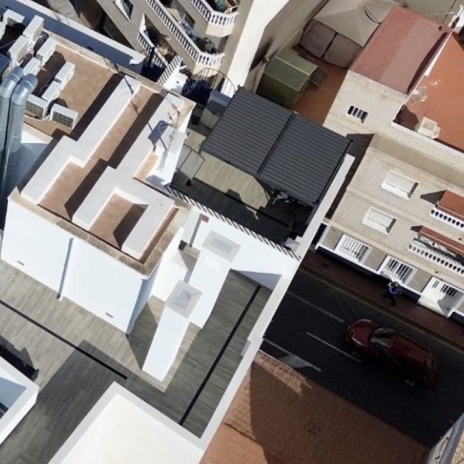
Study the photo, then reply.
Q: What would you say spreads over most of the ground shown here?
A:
buildings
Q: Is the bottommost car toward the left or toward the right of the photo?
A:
right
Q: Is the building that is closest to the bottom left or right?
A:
right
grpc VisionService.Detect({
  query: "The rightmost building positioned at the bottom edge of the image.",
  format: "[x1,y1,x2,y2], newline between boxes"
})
[423,414,464,464]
